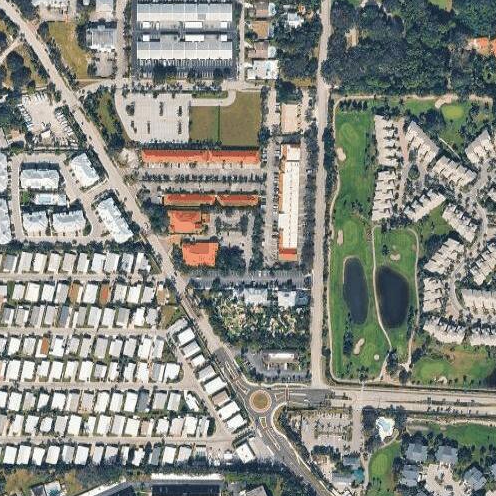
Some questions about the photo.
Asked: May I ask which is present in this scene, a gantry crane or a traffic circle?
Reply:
traffic circle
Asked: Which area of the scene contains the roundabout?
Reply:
bottom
